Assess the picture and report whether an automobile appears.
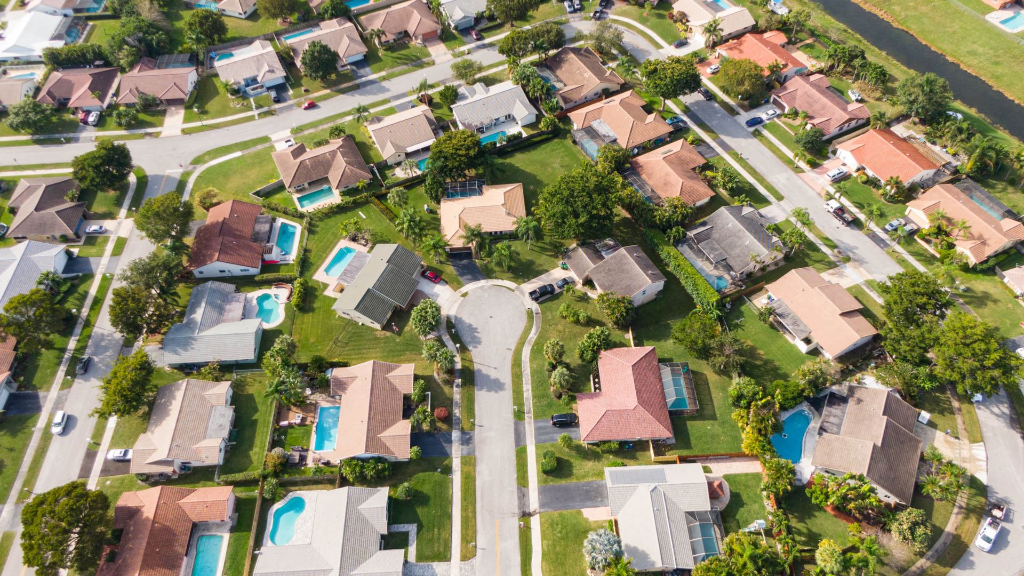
Yes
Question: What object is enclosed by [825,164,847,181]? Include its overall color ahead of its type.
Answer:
white car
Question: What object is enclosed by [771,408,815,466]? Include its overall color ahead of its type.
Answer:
blue swimming pool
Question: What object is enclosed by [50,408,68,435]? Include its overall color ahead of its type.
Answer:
white car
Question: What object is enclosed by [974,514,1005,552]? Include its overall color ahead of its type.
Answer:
white truck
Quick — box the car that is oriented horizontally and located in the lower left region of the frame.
[104,448,130,462]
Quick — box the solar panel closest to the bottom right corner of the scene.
[609,468,667,484]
